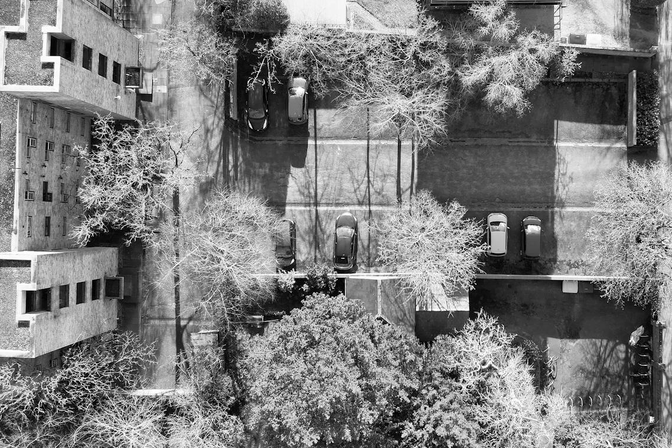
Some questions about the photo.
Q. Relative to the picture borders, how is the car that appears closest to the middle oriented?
from top to bottom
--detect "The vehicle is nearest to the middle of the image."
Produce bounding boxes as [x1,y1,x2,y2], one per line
[334,215,358,268]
